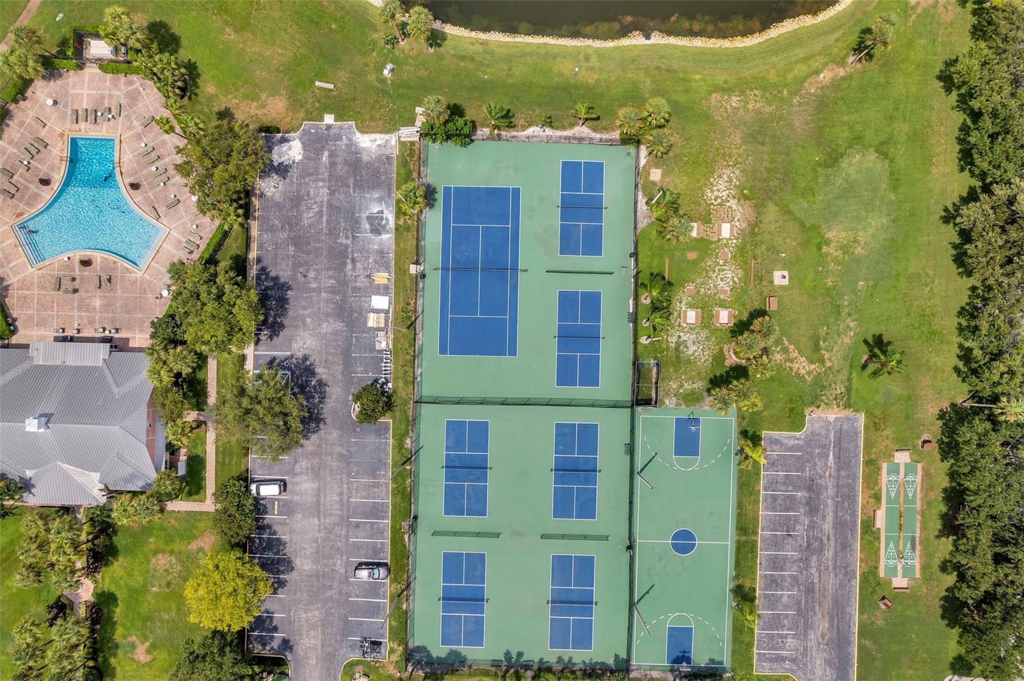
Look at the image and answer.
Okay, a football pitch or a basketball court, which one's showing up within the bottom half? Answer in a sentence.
Visible within the bottom half is a basketball court.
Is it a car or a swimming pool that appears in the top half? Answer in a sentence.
It is a swimming pool that can be seen in the top half.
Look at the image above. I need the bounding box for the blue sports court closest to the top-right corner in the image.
[559,160,605,257]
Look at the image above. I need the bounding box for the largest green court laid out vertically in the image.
[632,408,736,673]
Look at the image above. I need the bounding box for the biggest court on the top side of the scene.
[439,186,521,357]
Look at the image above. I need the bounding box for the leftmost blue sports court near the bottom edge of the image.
[441,552,486,648]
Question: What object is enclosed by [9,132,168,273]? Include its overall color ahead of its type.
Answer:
blue swimming pool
